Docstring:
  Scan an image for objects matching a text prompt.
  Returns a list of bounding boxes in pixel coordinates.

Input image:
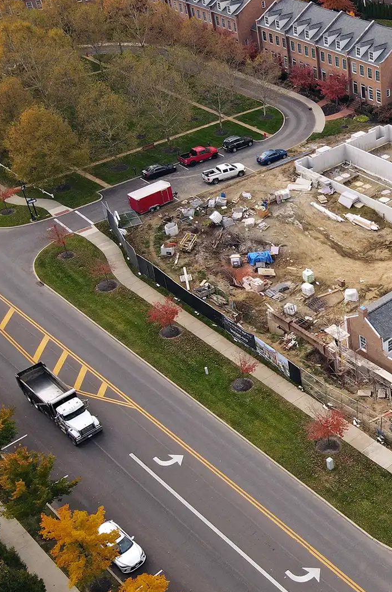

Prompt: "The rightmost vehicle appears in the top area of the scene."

[253,149,289,166]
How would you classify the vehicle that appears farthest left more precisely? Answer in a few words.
truck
